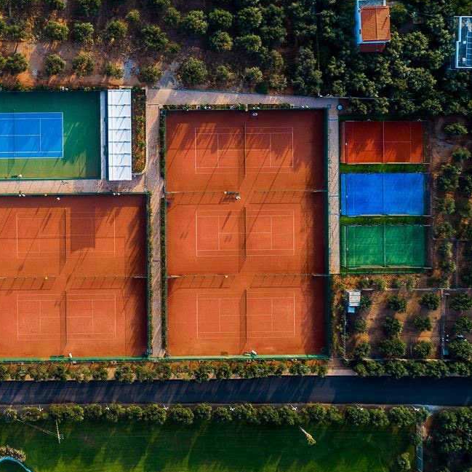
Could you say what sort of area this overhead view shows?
sports ground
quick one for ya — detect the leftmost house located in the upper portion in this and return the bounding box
[353,0,391,52]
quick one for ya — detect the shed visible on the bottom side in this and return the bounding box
[345,290,361,313]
